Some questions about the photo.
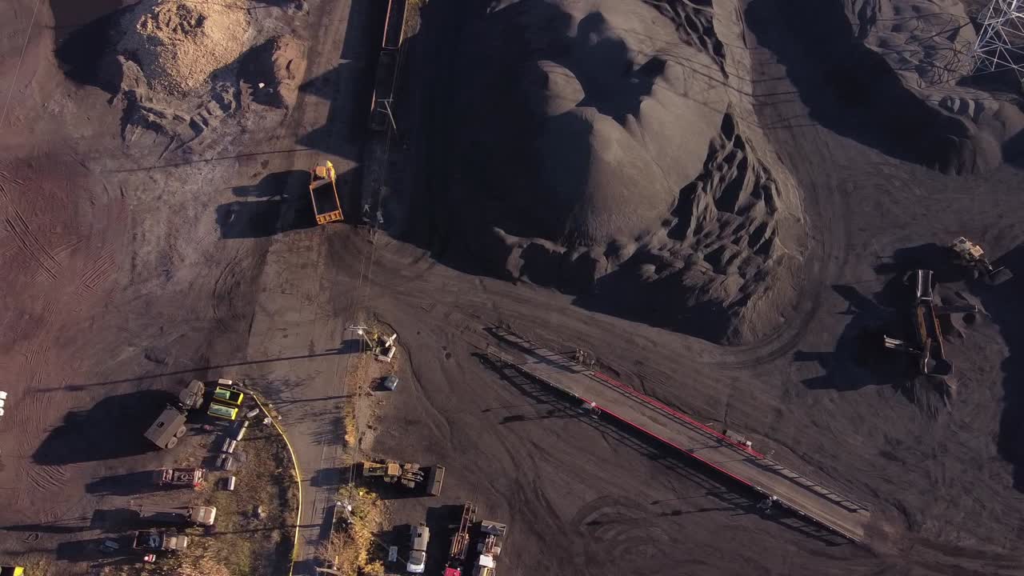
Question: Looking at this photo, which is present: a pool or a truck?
truck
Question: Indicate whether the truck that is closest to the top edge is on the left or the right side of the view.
left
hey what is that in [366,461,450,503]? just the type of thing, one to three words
work vehicle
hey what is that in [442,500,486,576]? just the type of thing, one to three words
truck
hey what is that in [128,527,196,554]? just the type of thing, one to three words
truck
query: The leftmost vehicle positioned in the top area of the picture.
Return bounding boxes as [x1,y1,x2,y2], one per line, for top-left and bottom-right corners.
[306,162,344,229]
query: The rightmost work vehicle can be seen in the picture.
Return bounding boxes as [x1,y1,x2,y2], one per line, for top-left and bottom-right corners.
[945,235,1018,295]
